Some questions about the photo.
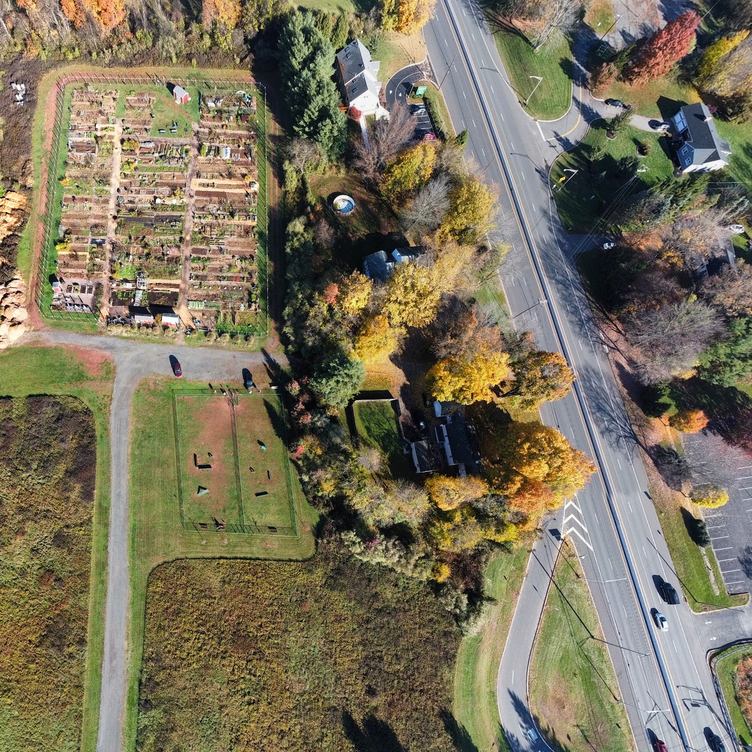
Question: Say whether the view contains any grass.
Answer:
Yes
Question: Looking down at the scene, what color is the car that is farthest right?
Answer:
black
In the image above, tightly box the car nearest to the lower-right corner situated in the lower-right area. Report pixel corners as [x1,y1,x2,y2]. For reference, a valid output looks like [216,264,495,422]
[708,730,729,752]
